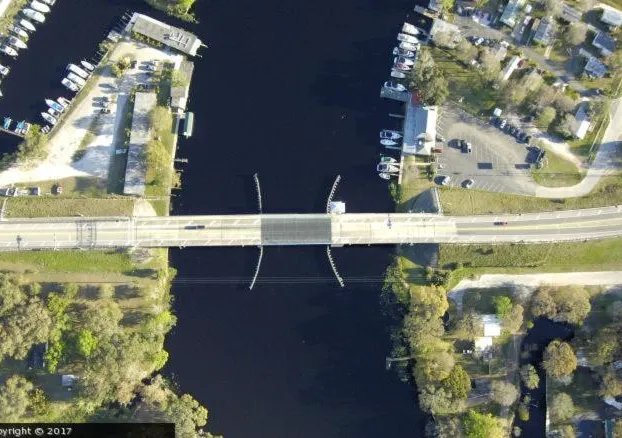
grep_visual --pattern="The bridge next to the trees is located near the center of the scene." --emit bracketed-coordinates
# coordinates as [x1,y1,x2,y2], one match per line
[133,189,444,267]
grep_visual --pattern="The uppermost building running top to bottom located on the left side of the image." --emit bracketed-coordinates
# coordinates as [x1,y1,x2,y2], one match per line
[171,61,191,107]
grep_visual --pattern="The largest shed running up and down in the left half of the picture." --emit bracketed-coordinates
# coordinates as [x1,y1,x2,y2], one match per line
[122,91,158,196]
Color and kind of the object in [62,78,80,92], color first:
white boat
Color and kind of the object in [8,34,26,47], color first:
white boat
